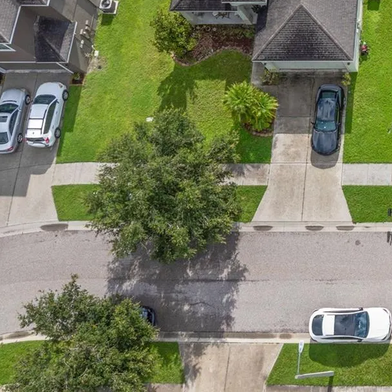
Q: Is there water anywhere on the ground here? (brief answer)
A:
No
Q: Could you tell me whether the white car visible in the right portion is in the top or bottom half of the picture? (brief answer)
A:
bottom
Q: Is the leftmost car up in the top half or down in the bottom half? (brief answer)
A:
top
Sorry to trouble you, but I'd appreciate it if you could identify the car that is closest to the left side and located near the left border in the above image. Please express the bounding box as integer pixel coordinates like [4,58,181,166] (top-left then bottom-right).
[0,89,32,154]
